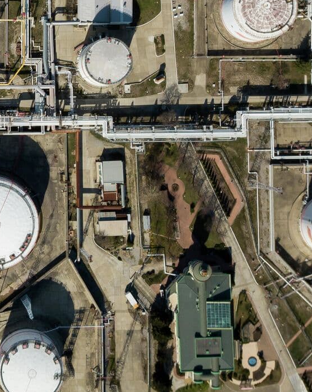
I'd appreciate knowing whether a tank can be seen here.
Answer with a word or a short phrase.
Yes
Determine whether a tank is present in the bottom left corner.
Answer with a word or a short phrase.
Yes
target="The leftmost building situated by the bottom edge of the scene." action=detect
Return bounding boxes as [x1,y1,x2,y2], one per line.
[169,253,234,391]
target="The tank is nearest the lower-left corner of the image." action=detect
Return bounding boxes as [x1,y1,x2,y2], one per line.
[0,319,69,392]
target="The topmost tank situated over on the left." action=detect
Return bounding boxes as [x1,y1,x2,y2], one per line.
[70,34,133,92]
